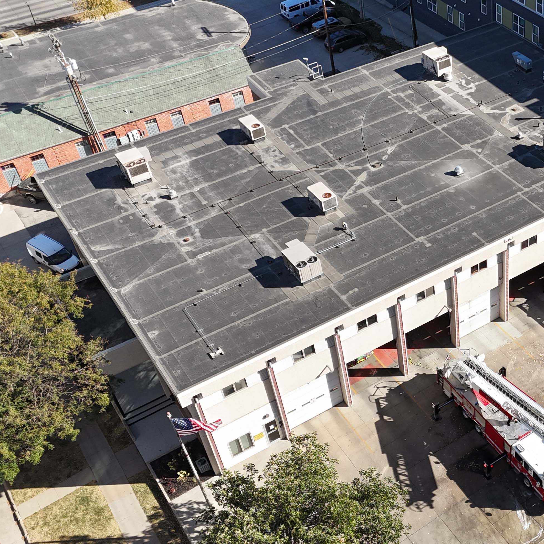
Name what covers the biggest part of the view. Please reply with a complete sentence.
The bulk of the photo consists of buildings.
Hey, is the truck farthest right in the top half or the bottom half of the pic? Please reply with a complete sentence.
Seen from above, the truck farthest right lies in the bottom half of the view.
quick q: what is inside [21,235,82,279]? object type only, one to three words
van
